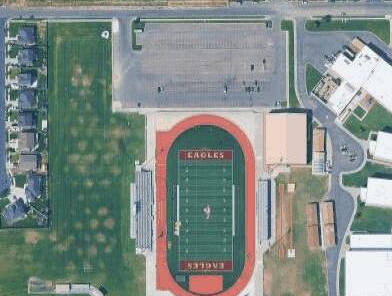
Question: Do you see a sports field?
Yes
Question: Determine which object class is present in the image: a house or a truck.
house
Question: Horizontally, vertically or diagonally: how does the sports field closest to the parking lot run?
vertically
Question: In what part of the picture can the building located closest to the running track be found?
right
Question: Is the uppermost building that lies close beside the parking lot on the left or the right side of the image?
right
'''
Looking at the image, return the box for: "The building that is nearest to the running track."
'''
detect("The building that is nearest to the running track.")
[264,113,308,164]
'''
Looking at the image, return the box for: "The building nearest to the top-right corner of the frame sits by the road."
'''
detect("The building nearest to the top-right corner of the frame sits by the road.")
[320,38,392,116]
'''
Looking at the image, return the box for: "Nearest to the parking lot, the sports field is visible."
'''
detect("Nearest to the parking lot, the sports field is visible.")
[166,125,245,295]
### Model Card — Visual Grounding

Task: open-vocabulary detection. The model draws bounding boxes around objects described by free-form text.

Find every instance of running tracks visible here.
[155,115,255,296]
